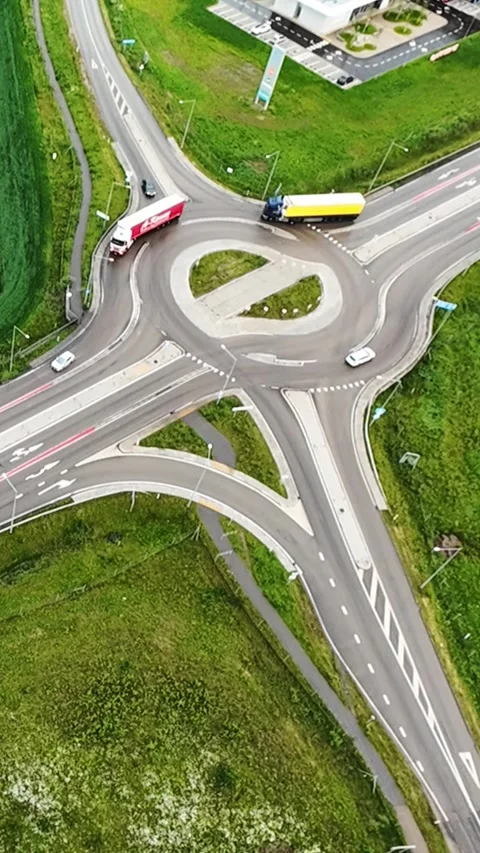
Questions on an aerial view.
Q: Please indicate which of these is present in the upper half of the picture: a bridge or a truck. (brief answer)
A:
truck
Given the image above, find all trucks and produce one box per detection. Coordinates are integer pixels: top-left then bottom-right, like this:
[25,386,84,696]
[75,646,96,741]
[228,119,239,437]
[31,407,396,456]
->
[258,192,368,227]
[108,193,188,259]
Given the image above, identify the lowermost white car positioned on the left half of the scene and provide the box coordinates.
[48,349,78,372]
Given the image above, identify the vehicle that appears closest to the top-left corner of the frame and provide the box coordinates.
[141,178,157,196]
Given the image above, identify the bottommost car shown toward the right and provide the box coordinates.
[344,346,378,363]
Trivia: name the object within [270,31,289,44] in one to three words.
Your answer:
vehicle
